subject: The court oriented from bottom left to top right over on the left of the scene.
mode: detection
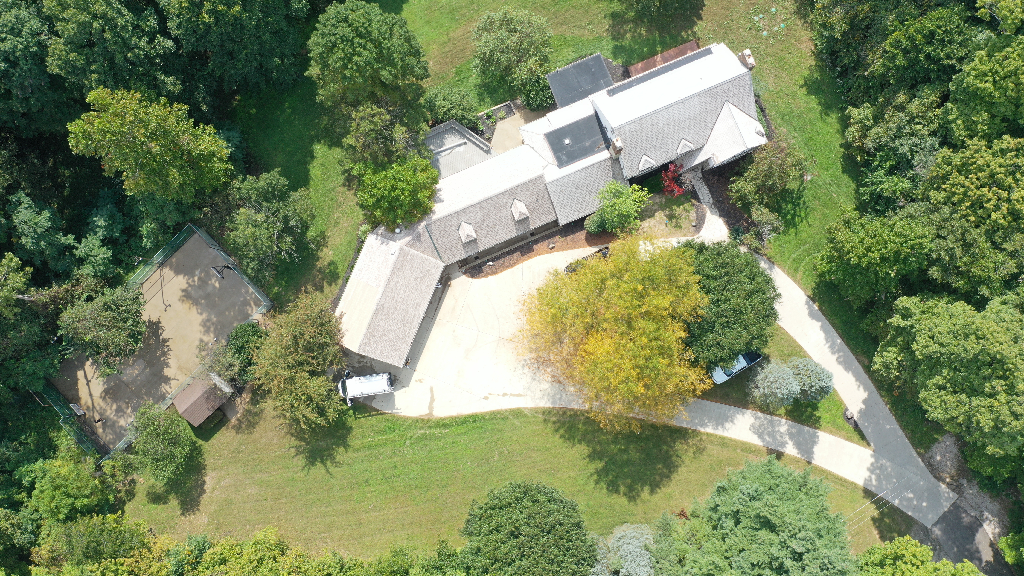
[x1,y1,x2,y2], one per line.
[52,232,271,454]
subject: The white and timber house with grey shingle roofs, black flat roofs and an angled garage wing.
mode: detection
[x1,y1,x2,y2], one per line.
[327,40,766,368]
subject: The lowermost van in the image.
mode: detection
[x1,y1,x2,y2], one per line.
[339,366,398,407]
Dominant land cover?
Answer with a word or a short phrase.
trees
